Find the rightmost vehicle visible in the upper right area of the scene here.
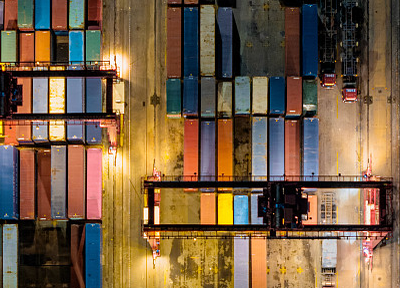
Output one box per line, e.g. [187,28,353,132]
[340,6,357,104]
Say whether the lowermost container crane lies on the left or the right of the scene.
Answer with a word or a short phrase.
right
